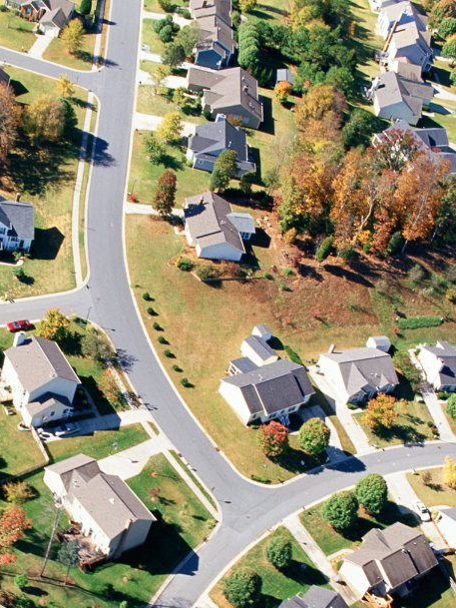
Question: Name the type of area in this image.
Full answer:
What you see here is a residential area.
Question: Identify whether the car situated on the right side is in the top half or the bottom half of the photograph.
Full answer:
It is in the bottom half that the car situated on the right side appears.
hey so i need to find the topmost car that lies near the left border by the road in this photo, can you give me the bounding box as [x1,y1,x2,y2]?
[6,316,34,330]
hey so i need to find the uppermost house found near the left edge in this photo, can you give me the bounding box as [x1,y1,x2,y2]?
[5,0,72,39]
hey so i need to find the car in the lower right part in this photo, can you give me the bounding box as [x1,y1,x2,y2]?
[414,498,434,519]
